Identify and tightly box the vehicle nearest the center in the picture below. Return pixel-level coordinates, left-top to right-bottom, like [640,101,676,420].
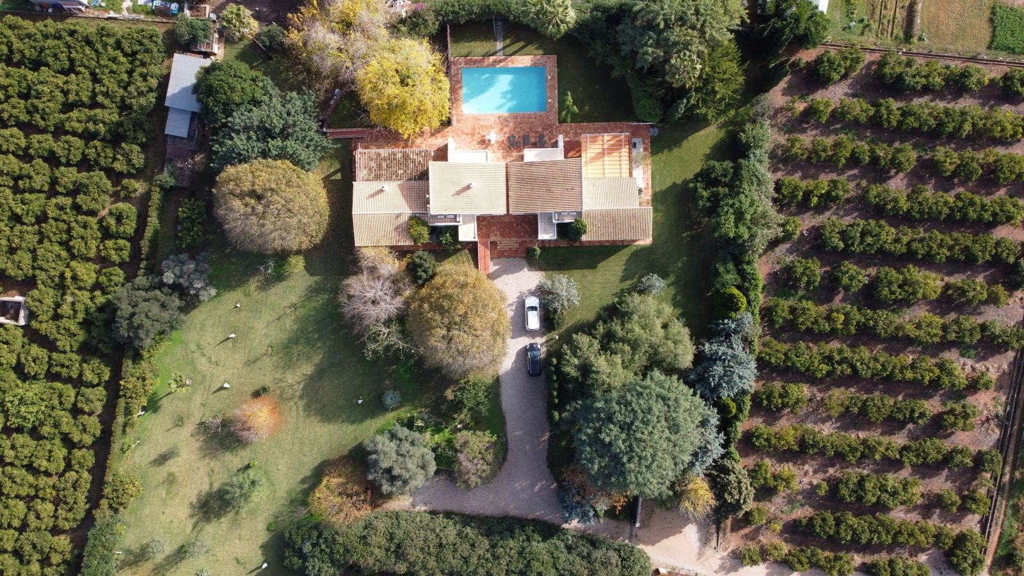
[524,296,541,331]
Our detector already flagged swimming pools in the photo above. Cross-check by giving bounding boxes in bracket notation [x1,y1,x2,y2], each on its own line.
[460,63,550,116]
